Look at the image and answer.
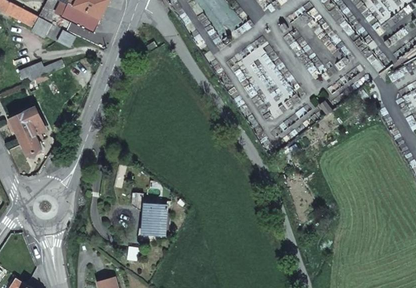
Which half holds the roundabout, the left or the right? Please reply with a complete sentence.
The roundabout is on the left side of the image.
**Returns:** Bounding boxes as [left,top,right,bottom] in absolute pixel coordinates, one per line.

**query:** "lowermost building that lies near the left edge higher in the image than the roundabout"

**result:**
[8,106,44,160]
